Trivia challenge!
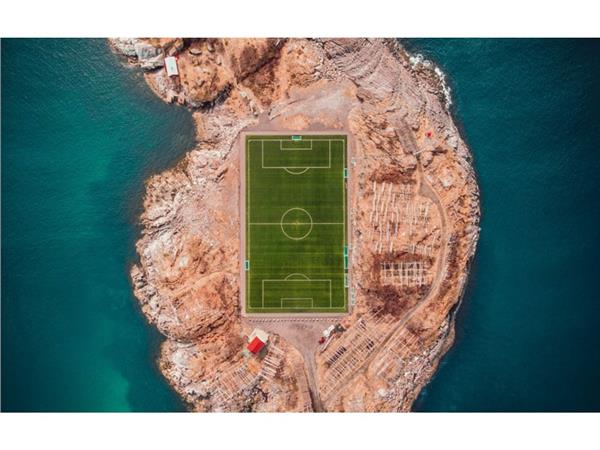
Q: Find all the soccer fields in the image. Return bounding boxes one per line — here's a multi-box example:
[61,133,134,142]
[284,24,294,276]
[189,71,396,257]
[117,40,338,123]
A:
[241,131,351,317]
